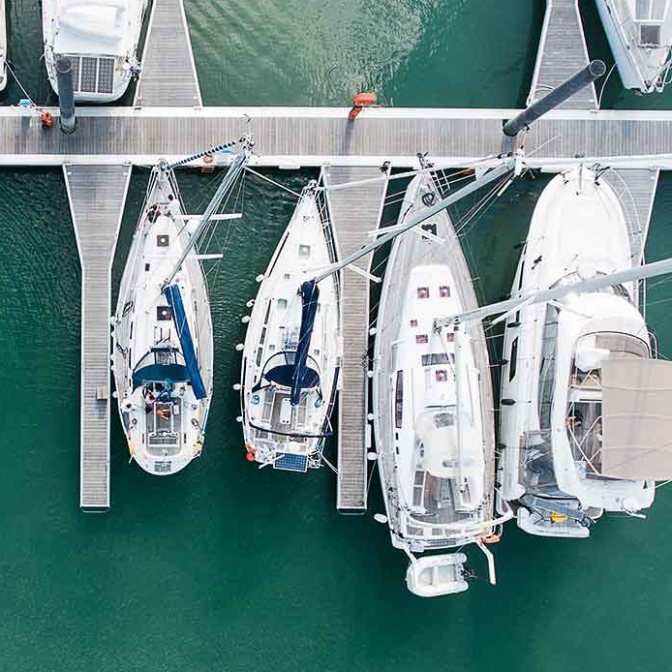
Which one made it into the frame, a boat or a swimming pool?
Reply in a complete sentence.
Looking from above, you can make out a boat.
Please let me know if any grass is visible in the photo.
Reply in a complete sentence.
No, no grass is visible.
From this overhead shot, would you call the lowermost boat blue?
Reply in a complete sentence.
No, the lowermost boat is white.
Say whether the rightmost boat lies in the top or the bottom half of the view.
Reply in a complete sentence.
The top half of the photo is where the rightmost boat is.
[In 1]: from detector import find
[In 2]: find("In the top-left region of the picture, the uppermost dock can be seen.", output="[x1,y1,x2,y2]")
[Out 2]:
[133,0,201,109]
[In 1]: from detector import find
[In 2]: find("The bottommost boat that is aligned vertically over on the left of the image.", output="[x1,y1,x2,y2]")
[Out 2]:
[112,107,262,476]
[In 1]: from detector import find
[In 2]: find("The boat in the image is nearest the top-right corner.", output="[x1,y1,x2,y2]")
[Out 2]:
[588,0,672,101]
